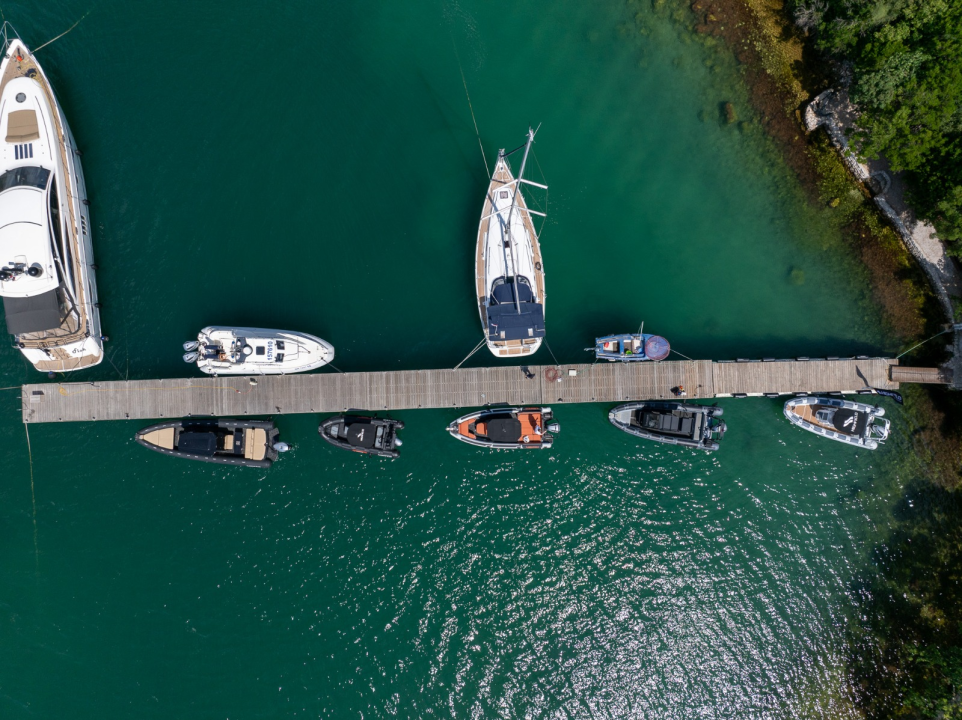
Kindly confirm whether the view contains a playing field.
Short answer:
No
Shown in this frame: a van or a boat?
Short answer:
boat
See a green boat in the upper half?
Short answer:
No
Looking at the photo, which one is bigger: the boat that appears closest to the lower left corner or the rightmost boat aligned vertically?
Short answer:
the rightmost boat aligned vertically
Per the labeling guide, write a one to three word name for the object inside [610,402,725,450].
boat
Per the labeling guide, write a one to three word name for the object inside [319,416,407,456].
boat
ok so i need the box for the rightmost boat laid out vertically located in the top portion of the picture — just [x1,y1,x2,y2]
[474,129,548,357]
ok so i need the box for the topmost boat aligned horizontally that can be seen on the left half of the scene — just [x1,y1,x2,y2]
[182,327,333,378]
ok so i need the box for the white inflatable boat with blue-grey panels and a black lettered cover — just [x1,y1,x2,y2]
[784,399,891,449]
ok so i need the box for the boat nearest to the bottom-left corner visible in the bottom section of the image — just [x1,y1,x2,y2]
[135,420,288,465]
